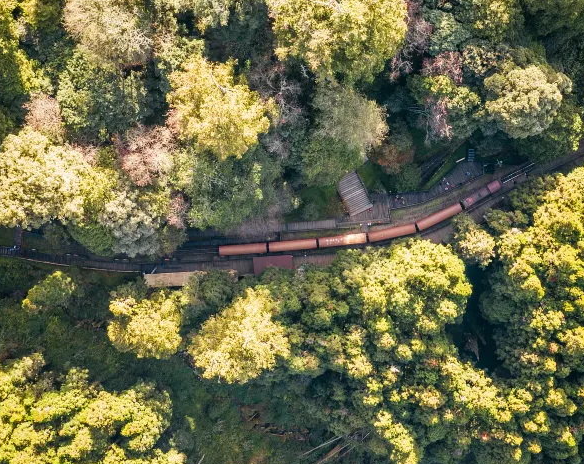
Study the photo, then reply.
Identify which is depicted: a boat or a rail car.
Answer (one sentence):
Looking from above, you can make out a rail car.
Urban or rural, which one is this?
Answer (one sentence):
From above, the setting appears rural.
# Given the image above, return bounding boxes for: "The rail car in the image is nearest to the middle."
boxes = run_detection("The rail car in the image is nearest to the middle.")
[270,235,318,252]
